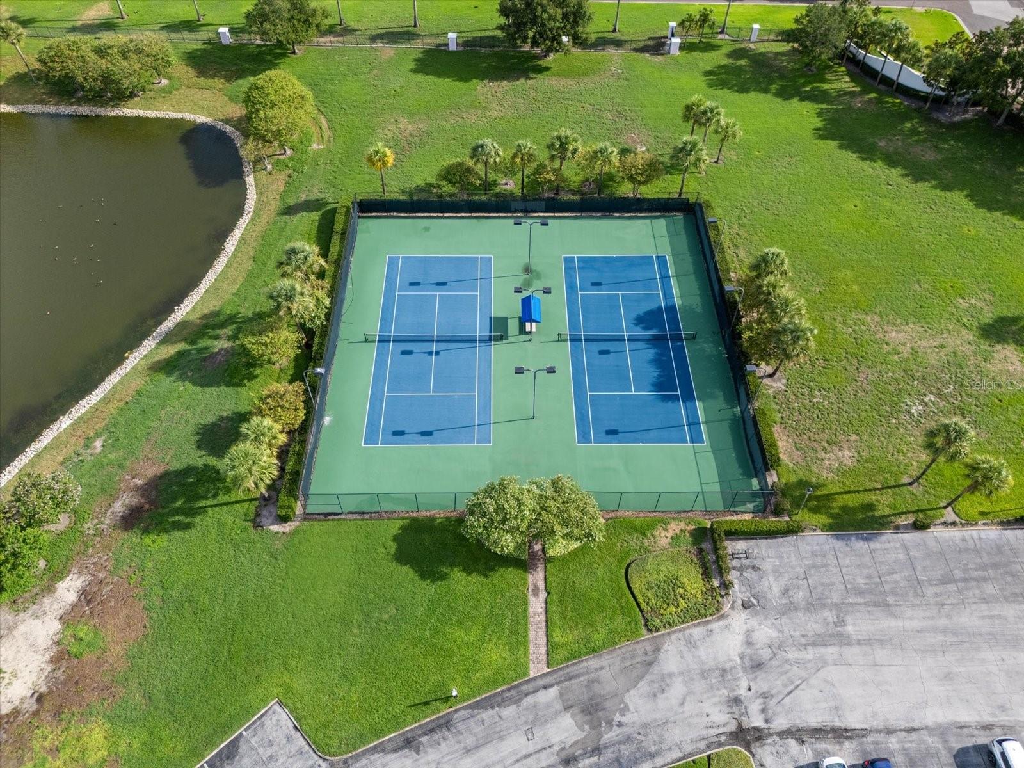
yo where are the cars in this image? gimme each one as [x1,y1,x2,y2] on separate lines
[820,755,852,768]
[861,756,893,768]
[993,738,1024,768]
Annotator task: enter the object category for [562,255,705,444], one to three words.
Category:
tennis court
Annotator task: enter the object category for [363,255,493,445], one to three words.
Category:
tennis court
